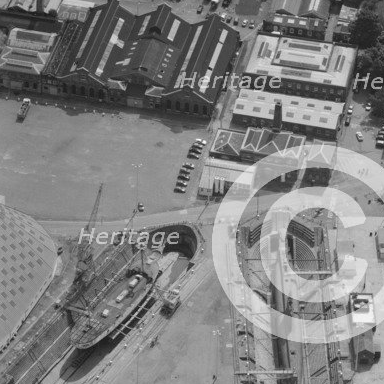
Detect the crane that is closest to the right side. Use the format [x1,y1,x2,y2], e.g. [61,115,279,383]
[146,283,184,321]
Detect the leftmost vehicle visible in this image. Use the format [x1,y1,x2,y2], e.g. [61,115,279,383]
[16,95,29,118]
